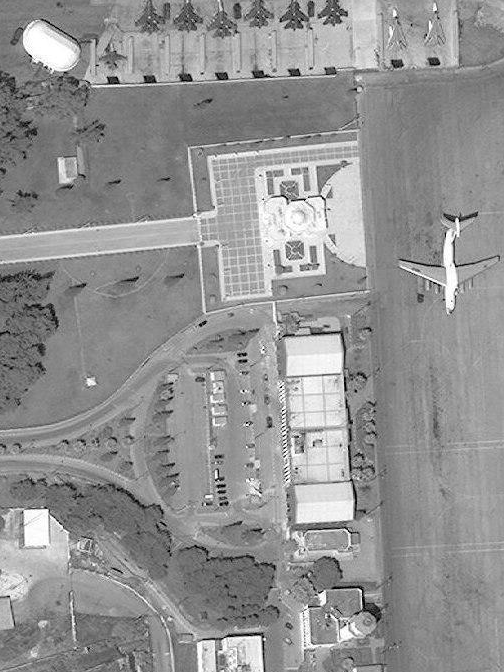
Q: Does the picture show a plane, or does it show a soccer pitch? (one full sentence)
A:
Of the two, only a plane appears.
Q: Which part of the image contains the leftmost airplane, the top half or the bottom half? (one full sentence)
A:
It is in the top half that the leftmost airplane appears.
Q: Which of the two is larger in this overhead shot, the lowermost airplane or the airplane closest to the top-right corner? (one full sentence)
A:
Compared with the airplane closest to the top-right corner, the lowermost airplane is the bigger one.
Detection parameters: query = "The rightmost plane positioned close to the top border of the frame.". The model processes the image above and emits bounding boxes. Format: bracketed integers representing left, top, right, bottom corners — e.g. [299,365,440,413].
[421,3,452,45]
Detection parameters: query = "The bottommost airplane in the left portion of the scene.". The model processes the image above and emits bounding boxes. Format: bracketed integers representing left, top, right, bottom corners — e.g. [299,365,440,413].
[97,42,128,69]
